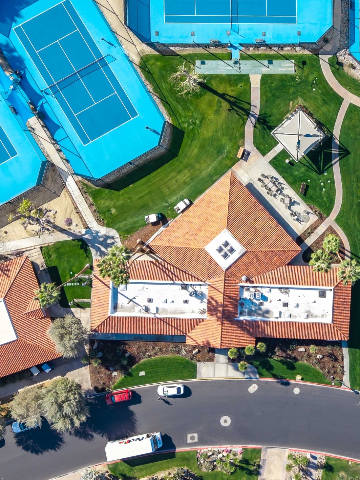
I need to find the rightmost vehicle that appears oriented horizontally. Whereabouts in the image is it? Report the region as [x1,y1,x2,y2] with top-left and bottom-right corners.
[157,383,185,397]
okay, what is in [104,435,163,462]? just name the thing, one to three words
truck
